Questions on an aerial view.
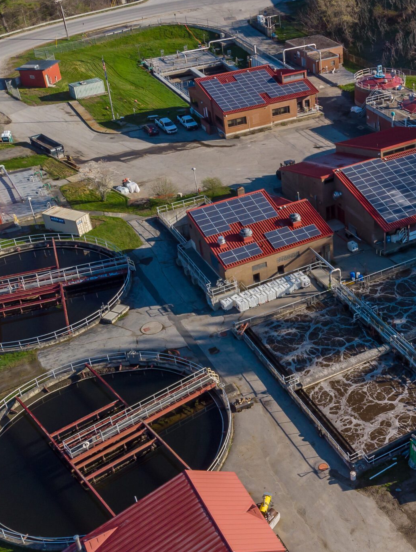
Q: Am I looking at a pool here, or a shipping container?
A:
shipping container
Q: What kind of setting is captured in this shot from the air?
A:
industrial area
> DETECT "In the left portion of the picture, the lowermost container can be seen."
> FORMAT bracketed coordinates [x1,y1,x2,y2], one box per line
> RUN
[44,203,91,234]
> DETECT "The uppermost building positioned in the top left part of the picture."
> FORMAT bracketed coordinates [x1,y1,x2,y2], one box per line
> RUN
[14,60,61,87]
